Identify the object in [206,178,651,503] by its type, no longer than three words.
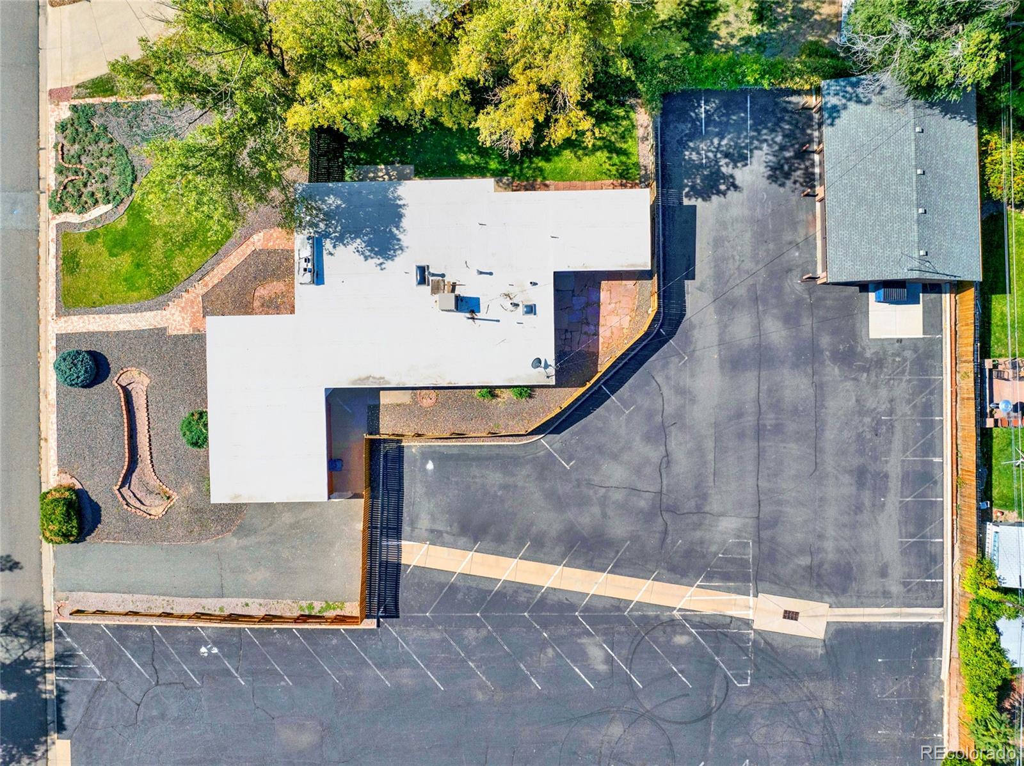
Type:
house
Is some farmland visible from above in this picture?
No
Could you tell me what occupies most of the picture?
paved ground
